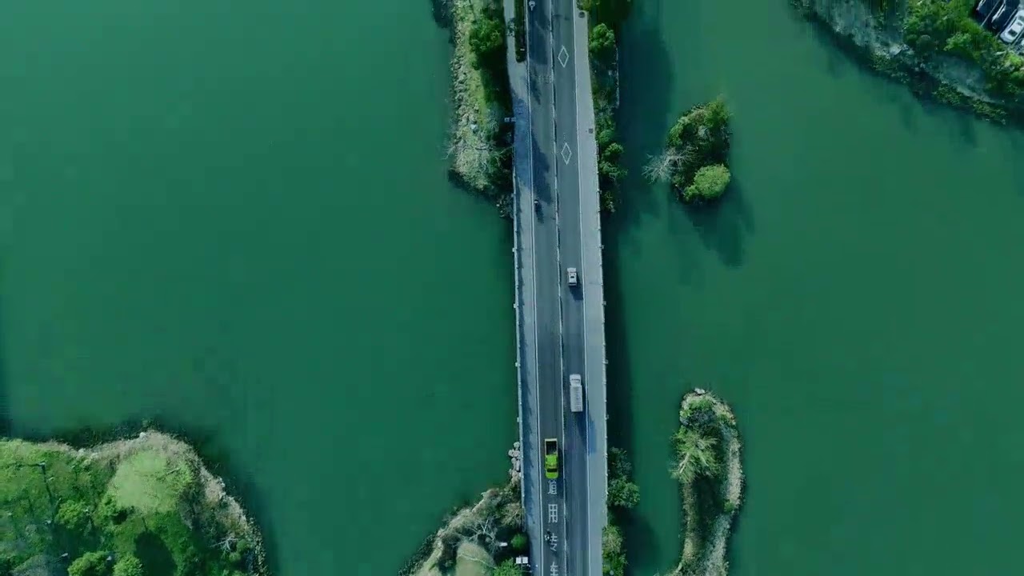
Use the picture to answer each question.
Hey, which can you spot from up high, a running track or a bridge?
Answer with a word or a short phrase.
bridge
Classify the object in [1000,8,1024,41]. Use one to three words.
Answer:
car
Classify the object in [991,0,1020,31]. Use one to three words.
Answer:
car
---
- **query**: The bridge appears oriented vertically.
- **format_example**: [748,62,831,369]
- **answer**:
[511,132,611,535]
